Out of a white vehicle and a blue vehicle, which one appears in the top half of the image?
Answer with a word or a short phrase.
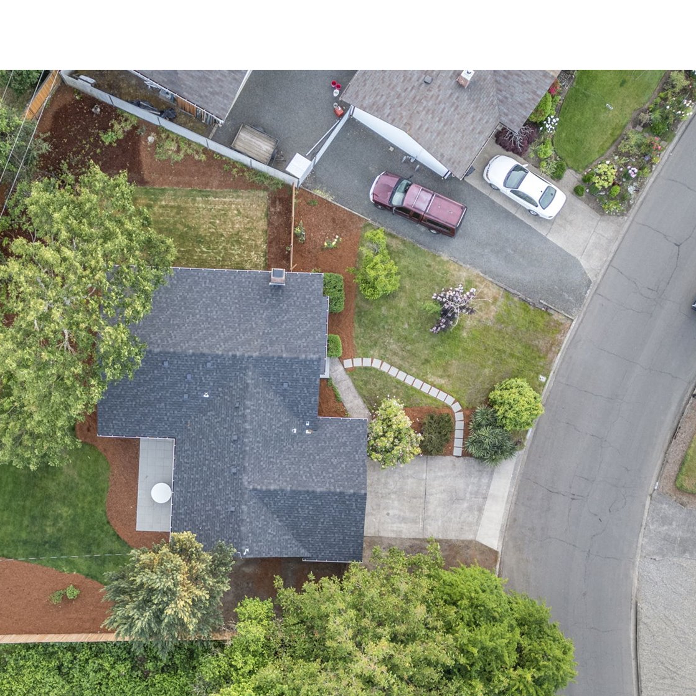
white vehicle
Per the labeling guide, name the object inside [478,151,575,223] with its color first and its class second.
white car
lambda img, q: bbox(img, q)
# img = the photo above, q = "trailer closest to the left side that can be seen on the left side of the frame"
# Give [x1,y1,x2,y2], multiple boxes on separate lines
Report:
[230,121,286,162]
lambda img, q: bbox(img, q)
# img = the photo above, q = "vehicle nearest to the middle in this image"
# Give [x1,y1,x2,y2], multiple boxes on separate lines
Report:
[361,167,474,242]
